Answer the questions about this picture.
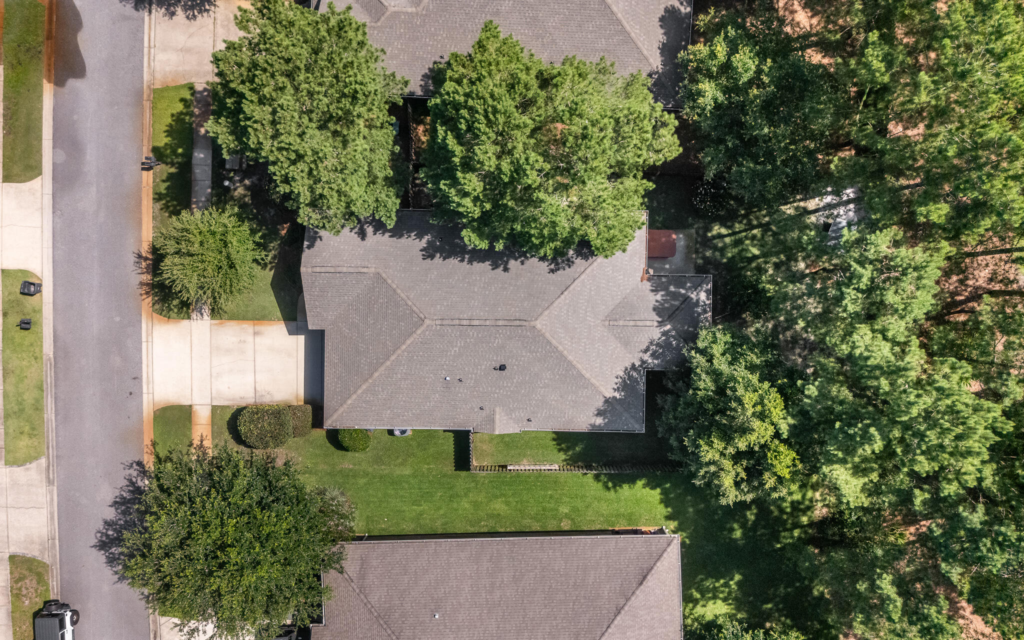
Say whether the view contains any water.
No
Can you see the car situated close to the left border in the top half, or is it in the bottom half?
bottom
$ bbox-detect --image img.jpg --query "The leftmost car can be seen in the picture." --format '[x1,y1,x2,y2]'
[38,603,78,640]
